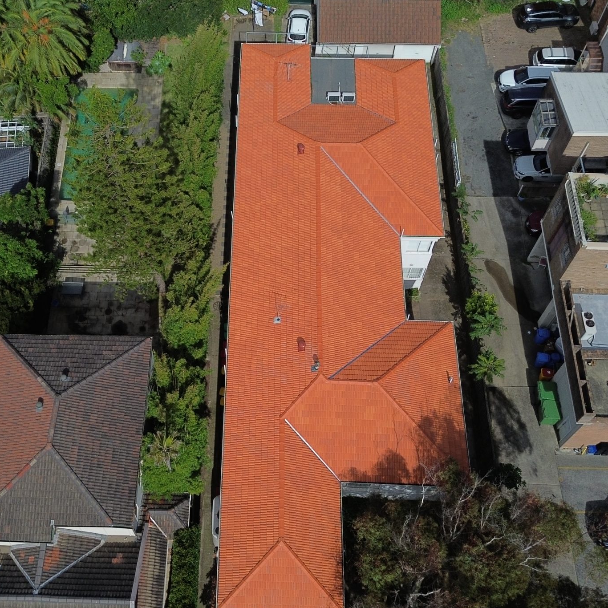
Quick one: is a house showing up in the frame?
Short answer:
Yes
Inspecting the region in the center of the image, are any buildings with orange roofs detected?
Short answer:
Yes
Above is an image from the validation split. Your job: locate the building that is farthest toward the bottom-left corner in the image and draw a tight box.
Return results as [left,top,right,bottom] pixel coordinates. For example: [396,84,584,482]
[0,332,196,608]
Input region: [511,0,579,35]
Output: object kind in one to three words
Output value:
car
